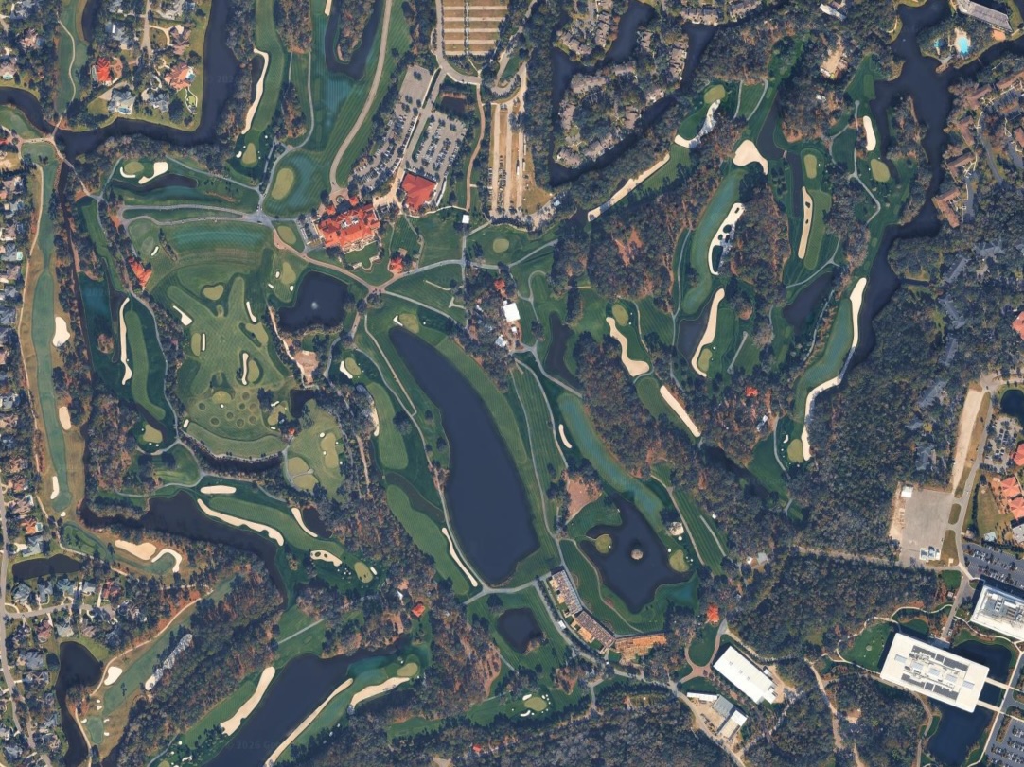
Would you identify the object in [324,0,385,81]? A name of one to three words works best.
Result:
pond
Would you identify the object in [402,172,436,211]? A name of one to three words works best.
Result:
building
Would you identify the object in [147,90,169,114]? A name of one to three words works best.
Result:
house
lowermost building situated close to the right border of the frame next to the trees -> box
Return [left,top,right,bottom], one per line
[882,634,991,713]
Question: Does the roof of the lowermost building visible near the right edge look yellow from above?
No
